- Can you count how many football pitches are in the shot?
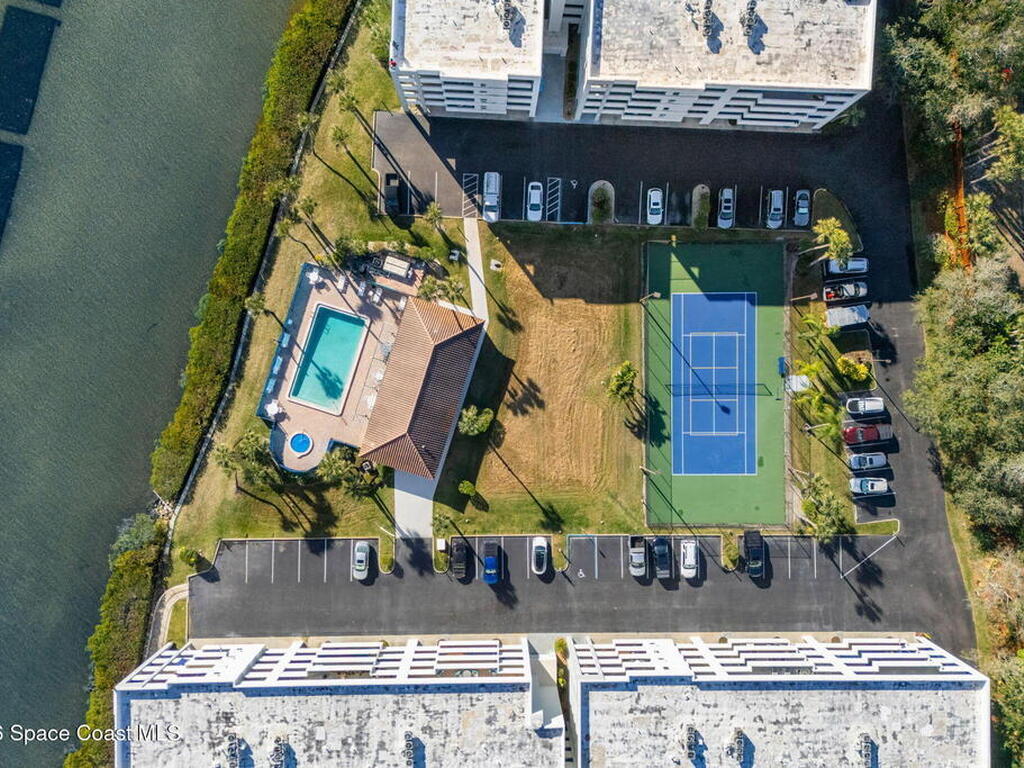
0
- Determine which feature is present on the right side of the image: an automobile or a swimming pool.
automobile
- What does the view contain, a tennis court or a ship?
tennis court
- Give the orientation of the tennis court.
vertically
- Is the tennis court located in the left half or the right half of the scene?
right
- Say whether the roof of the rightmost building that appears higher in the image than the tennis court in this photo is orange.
No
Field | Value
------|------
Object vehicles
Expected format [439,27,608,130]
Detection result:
[848,453,887,471]
[629,535,647,578]
[827,258,868,274]
[849,477,889,495]
[717,188,736,229]
[843,425,893,444]
[531,536,549,575]
[845,397,884,414]
[824,305,869,328]
[352,541,370,580]
[381,171,400,216]
[743,530,764,579]
[646,189,664,225]
[680,539,699,578]
[766,189,786,229]
[653,537,672,580]
[823,282,868,300]
[482,171,501,221]
[526,182,544,222]
[451,540,468,579]
[792,190,811,227]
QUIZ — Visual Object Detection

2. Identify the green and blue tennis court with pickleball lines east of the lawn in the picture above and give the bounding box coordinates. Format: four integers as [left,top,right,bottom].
[647,241,784,525]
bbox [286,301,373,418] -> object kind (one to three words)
swimming pool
